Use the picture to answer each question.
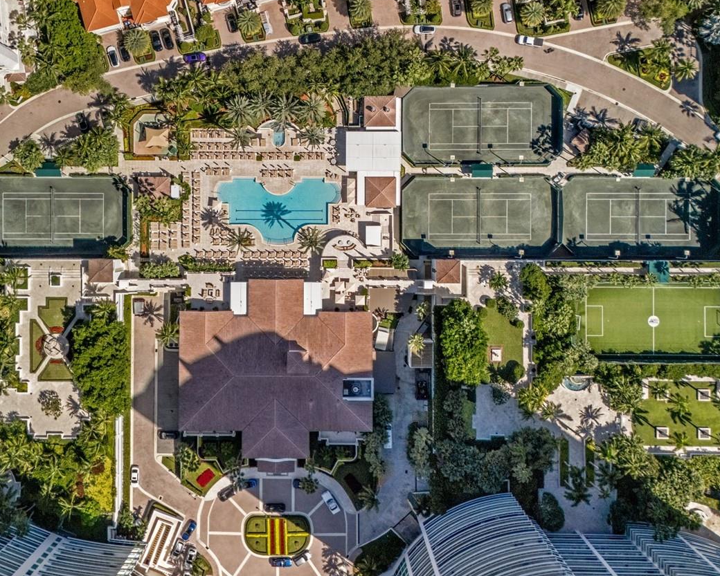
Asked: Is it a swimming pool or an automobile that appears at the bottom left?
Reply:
automobile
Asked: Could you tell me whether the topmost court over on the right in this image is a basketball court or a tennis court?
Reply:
tennis court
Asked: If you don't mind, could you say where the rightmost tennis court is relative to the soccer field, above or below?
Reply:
above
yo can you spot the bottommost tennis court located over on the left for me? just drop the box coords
[0,175,131,259]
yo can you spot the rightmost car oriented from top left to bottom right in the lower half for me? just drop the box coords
[322,494,341,515]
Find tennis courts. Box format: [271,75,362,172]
[402,82,568,166]
[562,176,720,259]
[401,176,562,259]
[0,175,131,259]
